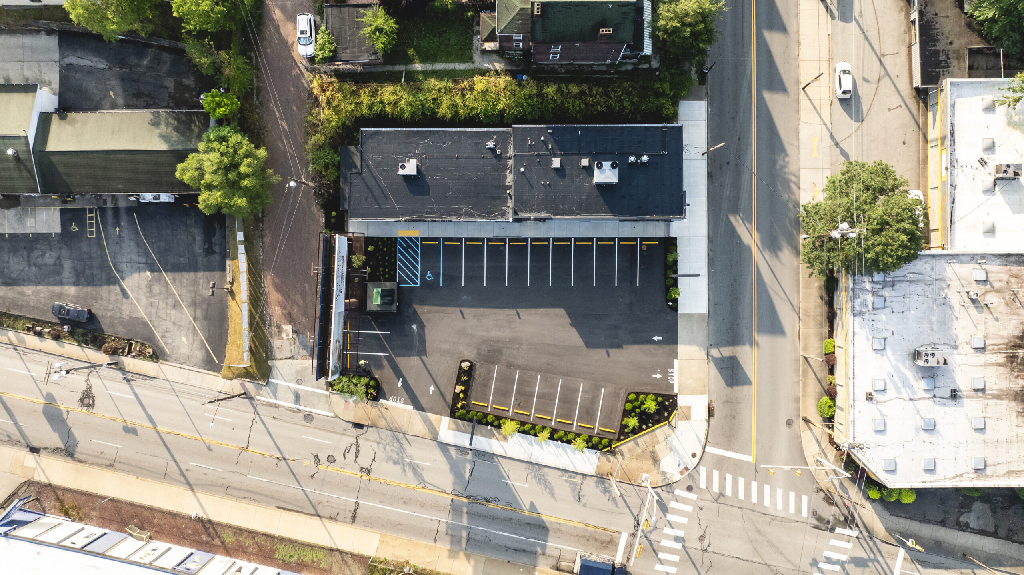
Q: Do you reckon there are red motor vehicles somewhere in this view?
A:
No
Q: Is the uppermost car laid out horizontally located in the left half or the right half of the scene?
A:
left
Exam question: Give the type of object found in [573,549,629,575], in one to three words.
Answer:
truck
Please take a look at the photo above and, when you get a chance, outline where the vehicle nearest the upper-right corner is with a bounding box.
[835,62,855,98]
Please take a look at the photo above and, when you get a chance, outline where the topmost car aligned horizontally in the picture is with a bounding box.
[52,302,93,322]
